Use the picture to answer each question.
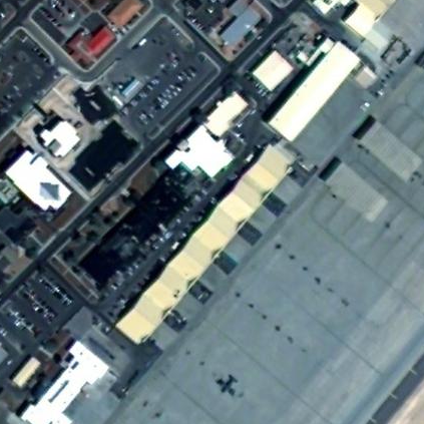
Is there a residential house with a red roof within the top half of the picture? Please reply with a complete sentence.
Yes, the scene does show a residential house with a red roof within the top half of the picture.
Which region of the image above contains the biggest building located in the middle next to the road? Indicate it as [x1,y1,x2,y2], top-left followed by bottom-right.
[116,144,290,344]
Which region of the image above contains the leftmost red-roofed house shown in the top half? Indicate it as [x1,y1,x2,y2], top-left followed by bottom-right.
[88,27,117,56]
